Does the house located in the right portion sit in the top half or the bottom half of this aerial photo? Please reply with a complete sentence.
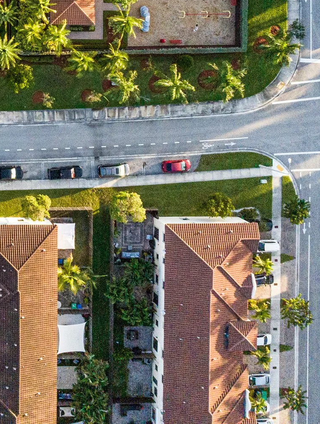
The house located in the right portion sits in the bottom half of the picture.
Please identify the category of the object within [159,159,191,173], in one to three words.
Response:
vehicle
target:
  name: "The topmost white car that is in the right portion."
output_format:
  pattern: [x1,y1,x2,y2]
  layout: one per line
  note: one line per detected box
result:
[255,239,282,253]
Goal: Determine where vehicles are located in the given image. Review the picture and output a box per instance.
[249,372,272,388]
[250,398,275,413]
[0,165,23,181]
[255,239,282,253]
[47,165,82,180]
[96,162,129,178]
[159,159,191,173]
[258,332,273,347]
[255,273,278,287]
